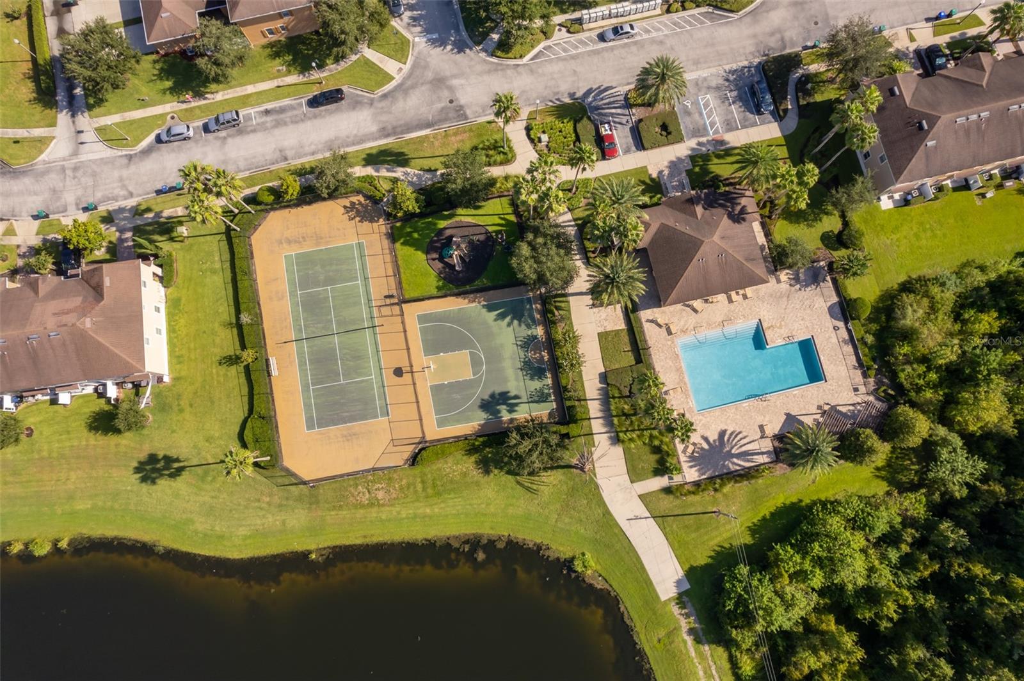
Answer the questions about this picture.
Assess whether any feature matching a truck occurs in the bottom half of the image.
No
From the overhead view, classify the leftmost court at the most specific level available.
tennis court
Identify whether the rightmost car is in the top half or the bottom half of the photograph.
top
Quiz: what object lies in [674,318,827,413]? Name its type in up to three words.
swimming pool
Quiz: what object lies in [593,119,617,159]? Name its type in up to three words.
truck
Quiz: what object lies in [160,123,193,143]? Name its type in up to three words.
car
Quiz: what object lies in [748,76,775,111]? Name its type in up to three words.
car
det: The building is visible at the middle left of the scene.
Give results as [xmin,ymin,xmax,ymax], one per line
[0,259,165,398]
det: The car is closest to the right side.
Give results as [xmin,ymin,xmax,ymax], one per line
[921,39,949,67]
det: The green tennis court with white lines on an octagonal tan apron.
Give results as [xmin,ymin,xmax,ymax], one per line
[251,194,423,480]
